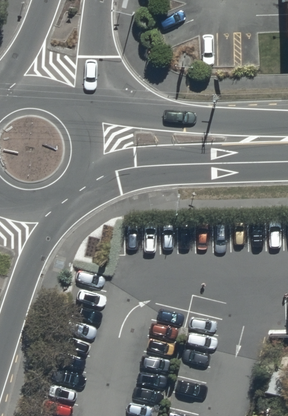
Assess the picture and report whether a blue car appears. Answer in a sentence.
Yes, this view includes a blue car.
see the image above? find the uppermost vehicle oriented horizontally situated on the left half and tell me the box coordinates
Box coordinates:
[76,272,105,288]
